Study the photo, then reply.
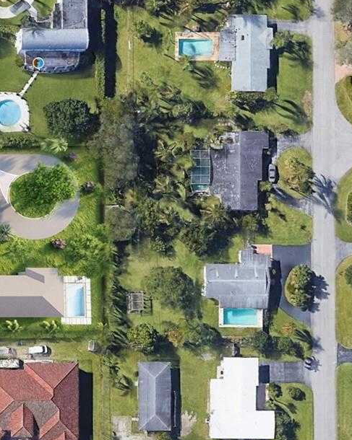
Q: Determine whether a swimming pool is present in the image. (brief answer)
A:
Yes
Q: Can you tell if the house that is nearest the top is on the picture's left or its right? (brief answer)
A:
left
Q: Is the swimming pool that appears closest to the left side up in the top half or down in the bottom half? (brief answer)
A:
top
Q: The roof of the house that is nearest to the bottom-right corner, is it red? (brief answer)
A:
No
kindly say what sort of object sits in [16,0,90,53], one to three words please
house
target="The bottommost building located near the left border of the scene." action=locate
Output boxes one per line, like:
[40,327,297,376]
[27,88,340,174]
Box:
[0,363,80,440]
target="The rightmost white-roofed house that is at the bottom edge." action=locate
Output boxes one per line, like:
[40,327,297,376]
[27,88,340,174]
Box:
[209,358,275,439]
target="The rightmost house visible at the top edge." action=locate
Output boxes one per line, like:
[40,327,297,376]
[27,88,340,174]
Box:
[219,15,273,91]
